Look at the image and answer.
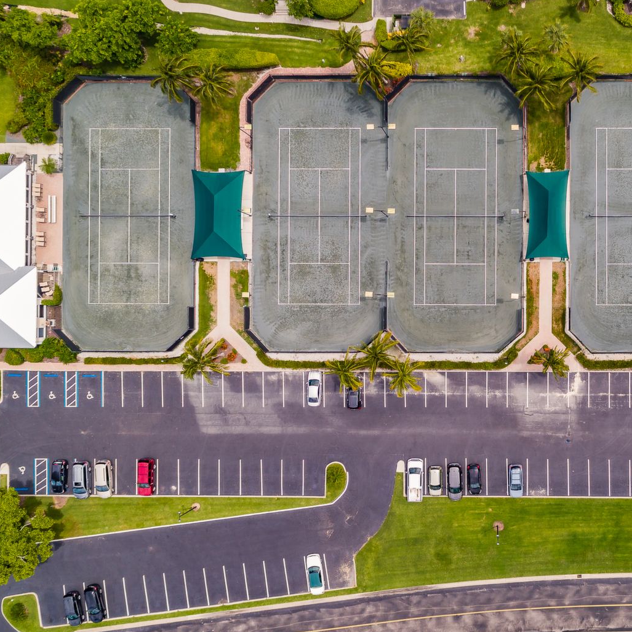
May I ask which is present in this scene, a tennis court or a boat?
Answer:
tennis court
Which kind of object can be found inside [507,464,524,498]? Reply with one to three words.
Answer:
car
